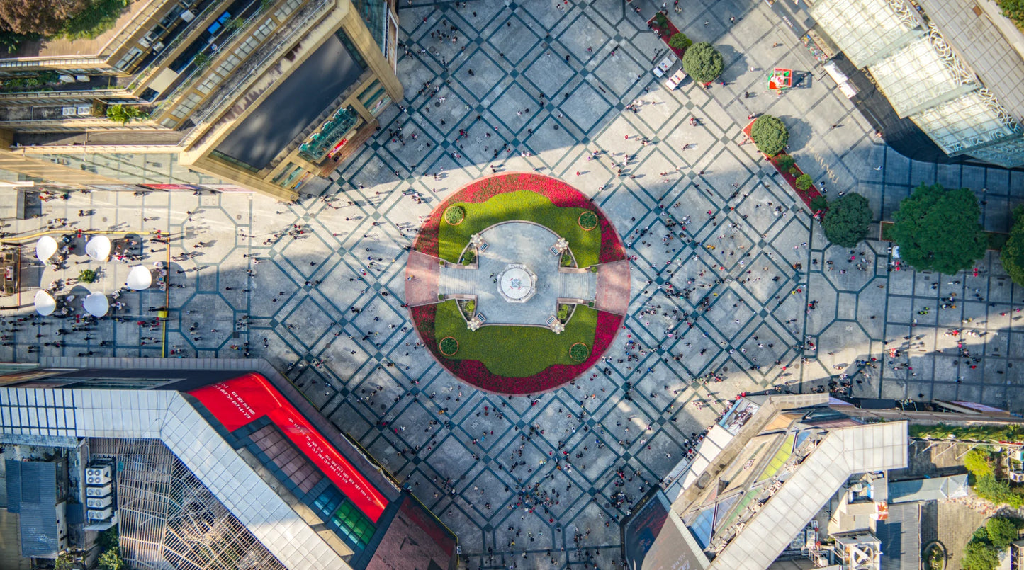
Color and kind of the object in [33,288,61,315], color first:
white umbrella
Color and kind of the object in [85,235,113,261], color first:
white umbrella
